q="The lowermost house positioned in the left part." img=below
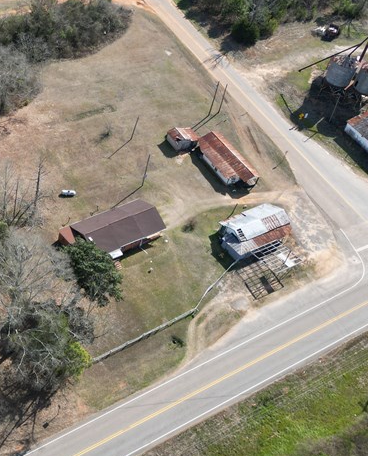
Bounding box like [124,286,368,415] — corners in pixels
[63,198,169,261]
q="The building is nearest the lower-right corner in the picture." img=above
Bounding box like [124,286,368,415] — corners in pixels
[204,208,305,283]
